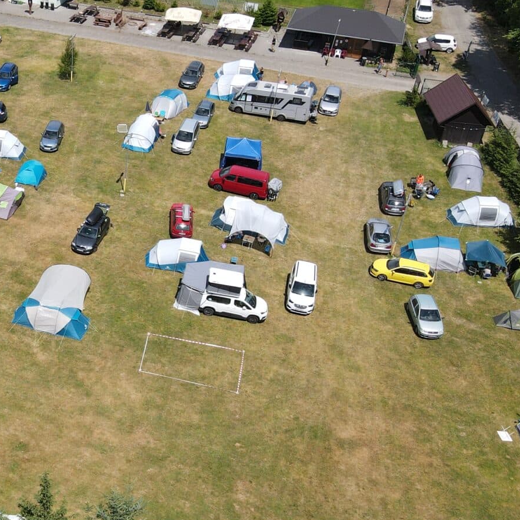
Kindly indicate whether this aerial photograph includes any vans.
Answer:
Yes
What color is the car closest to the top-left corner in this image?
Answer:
blue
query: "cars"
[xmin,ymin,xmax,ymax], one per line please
[193,96,220,125]
[319,85,344,113]
[199,269,270,325]
[374,176,408,213]
[405,286,449,335]
[40,118,68,148]
[409,0,434,20]
[179,61,204,86]
[0,99,9,122]
[0,63,23,89]
[417,33,459,53]
[171,116,196,151]
[366,254,442,289]
[166,200,194,235]
[72,196,111,251]
[284,254,320,311]
[356,215,394,250]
